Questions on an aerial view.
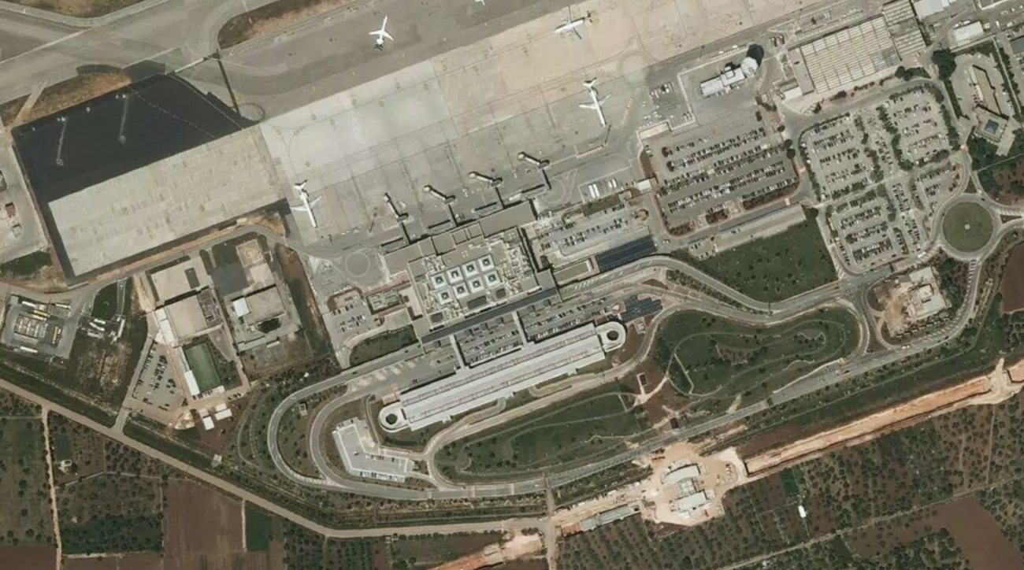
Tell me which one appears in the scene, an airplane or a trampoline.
airplane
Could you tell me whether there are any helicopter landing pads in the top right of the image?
No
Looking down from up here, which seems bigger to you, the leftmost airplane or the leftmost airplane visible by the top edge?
the leftmost airplane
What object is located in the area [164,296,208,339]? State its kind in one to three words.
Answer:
building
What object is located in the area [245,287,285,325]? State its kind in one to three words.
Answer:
building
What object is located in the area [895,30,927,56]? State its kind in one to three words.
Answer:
shed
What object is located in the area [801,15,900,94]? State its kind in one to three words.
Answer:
shed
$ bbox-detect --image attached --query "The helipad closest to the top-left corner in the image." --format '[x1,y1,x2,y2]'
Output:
[236,240,263,266]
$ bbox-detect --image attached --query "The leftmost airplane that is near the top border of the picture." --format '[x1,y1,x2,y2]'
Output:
[369,16,394,47]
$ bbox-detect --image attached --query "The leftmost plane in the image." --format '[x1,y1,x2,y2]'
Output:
[289,179,322,227]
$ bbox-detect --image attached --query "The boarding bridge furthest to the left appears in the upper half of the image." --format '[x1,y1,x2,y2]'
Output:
[383,193,411,244]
